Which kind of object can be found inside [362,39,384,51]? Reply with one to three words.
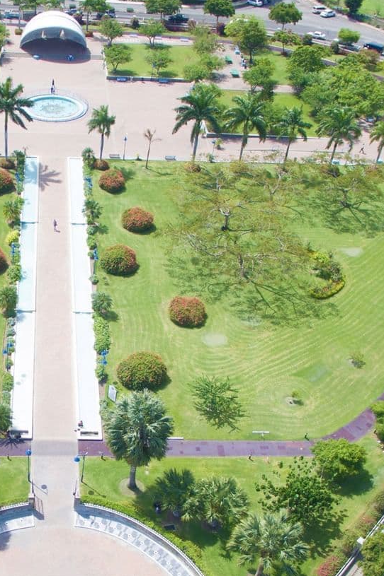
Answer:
vehicle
